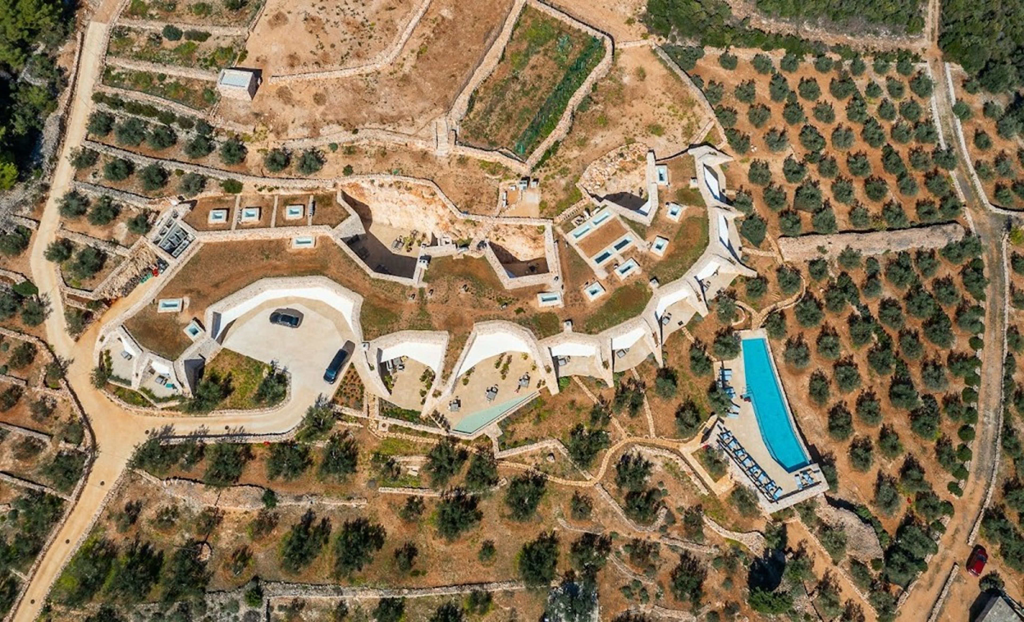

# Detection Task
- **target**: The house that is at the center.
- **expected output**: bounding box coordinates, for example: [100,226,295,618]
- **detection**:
[93,145,757,436]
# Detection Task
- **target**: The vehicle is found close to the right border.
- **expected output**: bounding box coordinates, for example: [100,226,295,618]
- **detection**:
[967,546,990,578]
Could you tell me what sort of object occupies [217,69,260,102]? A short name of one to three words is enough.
shed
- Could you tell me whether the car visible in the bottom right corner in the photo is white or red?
red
